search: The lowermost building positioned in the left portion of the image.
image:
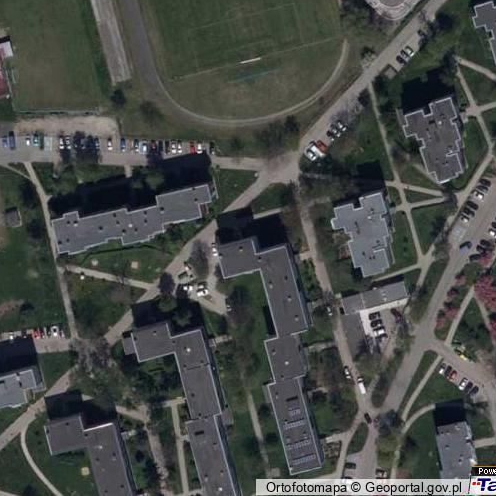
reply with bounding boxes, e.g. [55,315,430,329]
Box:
[45,413,141,496]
